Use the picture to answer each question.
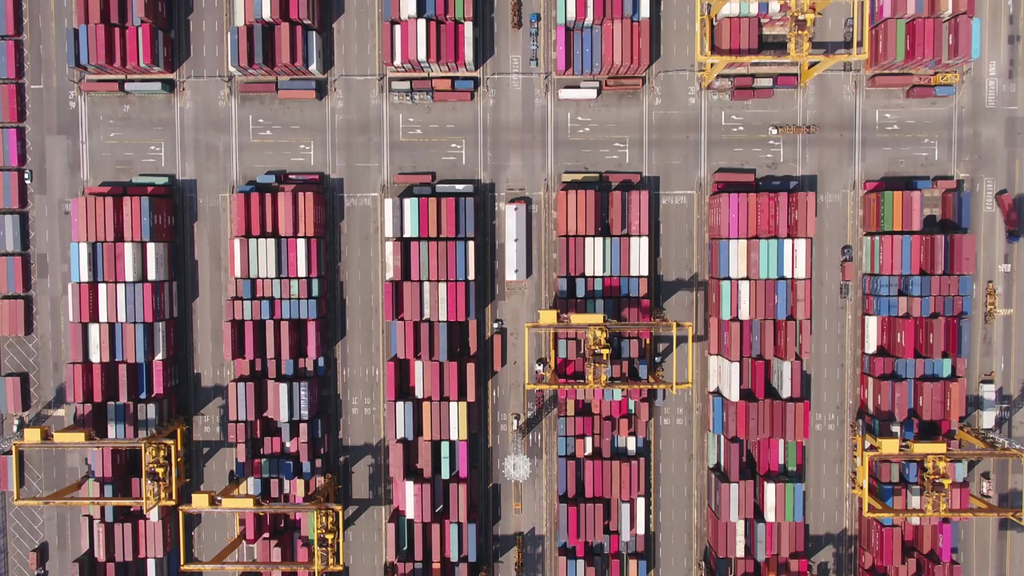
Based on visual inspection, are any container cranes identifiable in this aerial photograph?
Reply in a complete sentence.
Yes, you can see a container crane in this photo.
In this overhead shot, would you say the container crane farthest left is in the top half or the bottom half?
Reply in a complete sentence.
The container crane farthest left sits in the bottom half of the picture.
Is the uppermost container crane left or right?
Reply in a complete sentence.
The uppermost container crane appears in the right half of the scene.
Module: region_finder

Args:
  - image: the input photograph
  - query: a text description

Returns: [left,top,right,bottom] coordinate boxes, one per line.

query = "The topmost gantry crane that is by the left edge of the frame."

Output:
[10,408,193,510]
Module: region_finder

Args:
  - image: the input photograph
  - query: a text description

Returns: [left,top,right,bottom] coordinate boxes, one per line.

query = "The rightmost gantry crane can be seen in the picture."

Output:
[847,422,1024,521]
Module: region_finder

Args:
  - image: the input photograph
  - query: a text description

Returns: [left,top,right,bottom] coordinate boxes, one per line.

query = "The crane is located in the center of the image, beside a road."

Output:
[525,304,694,389]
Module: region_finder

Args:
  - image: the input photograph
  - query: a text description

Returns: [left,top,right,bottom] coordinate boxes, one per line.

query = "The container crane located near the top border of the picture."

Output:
[698,0,869,89]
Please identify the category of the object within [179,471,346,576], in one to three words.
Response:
container crane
